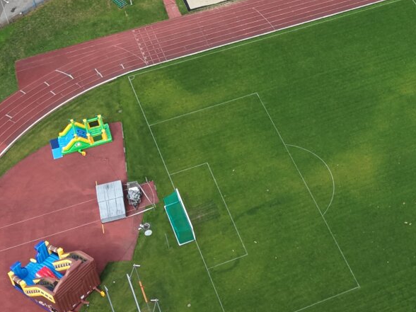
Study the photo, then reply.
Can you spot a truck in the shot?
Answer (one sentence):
No, no truck can be seen from above.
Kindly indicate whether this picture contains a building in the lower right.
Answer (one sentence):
No, in the lower right there is no building.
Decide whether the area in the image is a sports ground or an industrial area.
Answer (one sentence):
This looks like a sports ground.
